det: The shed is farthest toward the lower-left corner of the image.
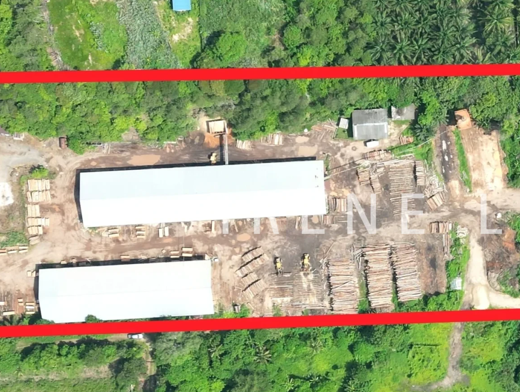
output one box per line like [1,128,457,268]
[37,259,218,325]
